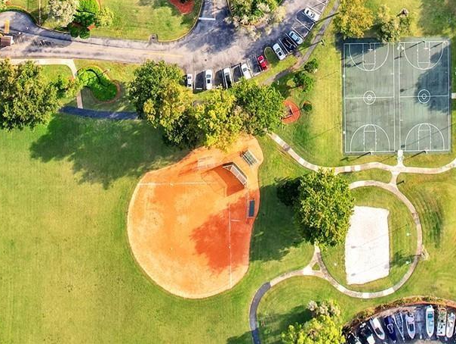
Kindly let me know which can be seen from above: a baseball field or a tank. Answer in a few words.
baseball field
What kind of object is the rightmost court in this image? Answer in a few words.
basketball court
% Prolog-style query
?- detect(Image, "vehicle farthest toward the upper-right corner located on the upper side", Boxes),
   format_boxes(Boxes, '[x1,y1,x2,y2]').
[304,6,321,21]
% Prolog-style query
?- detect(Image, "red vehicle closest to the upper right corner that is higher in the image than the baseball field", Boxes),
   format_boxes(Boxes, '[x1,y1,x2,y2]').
[255,52,271,73]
